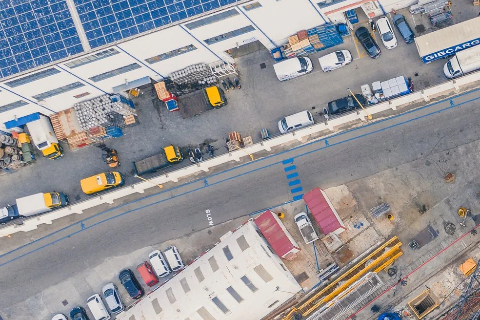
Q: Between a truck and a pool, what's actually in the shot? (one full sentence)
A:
The image shows a truck.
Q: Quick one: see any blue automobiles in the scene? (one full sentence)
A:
Yes, there's a blue automobile down there.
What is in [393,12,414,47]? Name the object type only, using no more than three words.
car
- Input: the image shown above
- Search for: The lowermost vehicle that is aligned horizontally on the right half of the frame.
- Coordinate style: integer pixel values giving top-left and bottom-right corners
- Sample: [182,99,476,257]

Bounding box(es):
[281,110,319,134]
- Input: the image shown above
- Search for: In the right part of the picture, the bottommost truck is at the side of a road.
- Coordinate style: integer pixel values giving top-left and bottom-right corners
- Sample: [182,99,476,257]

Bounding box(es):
[298,210,322,246]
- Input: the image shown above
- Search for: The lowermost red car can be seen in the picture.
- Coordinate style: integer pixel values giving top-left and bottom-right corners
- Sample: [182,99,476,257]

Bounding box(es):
[137,260,161,288]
